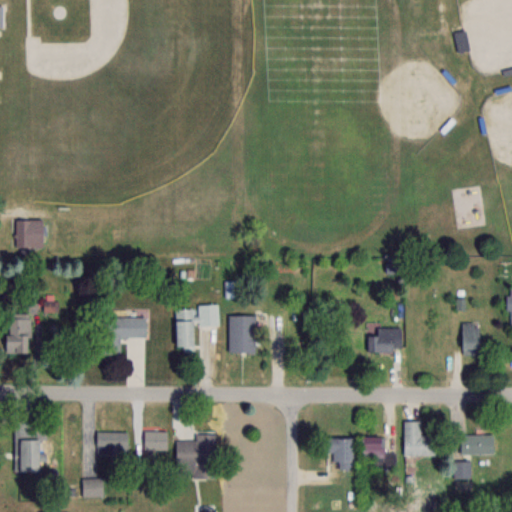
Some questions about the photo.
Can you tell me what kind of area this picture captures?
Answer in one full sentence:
The area seen from above is a sports ground.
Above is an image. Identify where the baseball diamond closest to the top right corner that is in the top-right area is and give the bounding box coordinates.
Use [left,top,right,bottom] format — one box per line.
[462,0,512,74]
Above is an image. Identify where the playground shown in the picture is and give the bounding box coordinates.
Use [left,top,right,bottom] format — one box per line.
[452,186,486,230]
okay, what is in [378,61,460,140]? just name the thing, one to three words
baseball field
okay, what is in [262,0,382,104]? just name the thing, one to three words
sports field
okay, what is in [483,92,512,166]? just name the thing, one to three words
baseball field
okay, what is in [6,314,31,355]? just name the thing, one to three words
house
